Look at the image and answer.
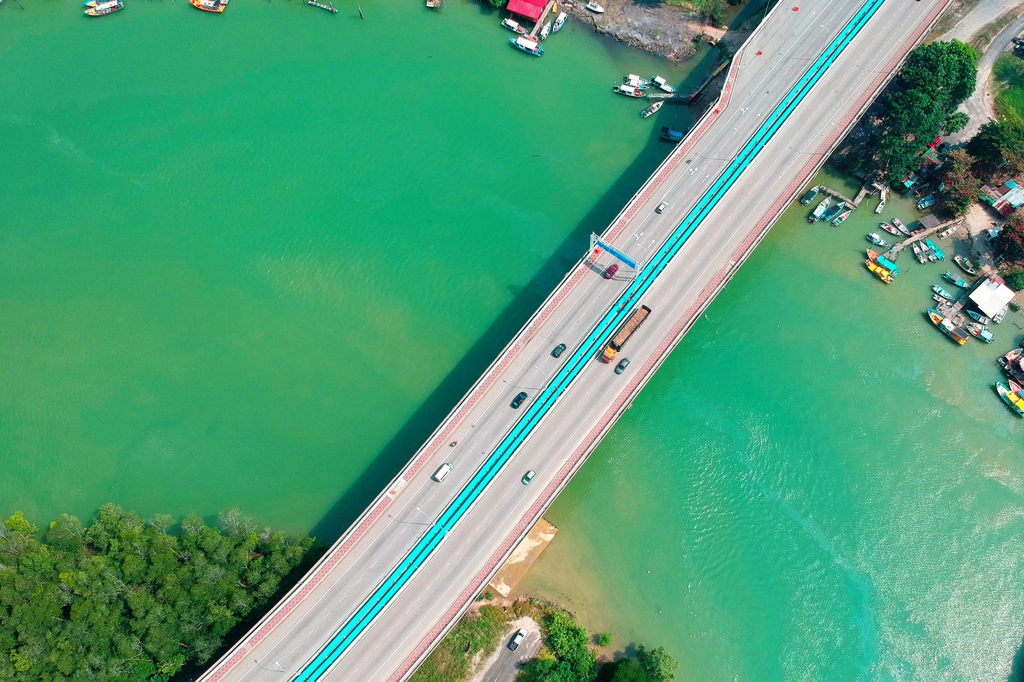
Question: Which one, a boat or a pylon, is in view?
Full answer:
It is a boat that can be seen here.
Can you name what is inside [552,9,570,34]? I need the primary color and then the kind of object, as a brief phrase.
white boat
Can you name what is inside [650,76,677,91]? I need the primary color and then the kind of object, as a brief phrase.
white boat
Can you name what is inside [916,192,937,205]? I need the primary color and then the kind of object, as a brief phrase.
blue boat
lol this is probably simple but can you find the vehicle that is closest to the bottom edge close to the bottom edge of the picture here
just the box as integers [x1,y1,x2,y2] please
[508,629,526,652]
